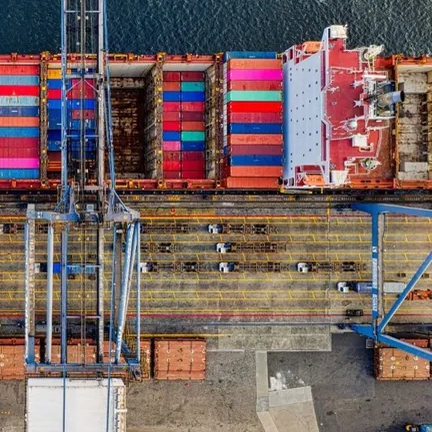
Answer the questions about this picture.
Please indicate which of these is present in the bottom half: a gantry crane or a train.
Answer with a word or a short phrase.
gantry crane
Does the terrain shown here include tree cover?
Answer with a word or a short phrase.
No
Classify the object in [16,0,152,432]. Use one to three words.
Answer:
container crane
